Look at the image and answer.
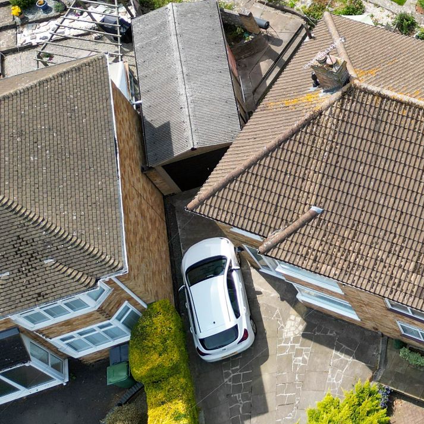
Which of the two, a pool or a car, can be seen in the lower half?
car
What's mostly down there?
buildings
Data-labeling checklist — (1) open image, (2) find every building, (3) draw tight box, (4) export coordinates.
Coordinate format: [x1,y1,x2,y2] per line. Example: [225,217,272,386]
[185,14,424,350]
[0,59,182,400]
